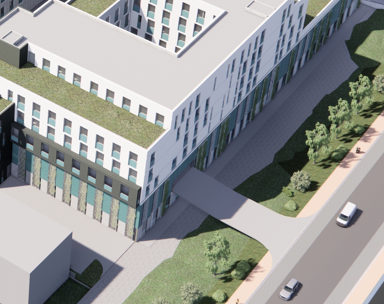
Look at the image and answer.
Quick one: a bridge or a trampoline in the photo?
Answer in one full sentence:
There is a bridge in the scene.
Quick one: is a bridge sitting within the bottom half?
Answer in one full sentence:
Yes, a bridge is visible within the bottom half.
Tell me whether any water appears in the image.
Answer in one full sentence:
No, the scene doesn't show any water.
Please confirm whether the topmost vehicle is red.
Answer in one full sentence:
No, from above the topmost vehicle looks white.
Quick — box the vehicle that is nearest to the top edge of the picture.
[337,203,359,227]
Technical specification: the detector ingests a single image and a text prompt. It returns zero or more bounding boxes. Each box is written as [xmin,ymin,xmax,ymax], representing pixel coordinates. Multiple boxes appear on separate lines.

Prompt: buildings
[0,0,340,243]
[0,191,73,304]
